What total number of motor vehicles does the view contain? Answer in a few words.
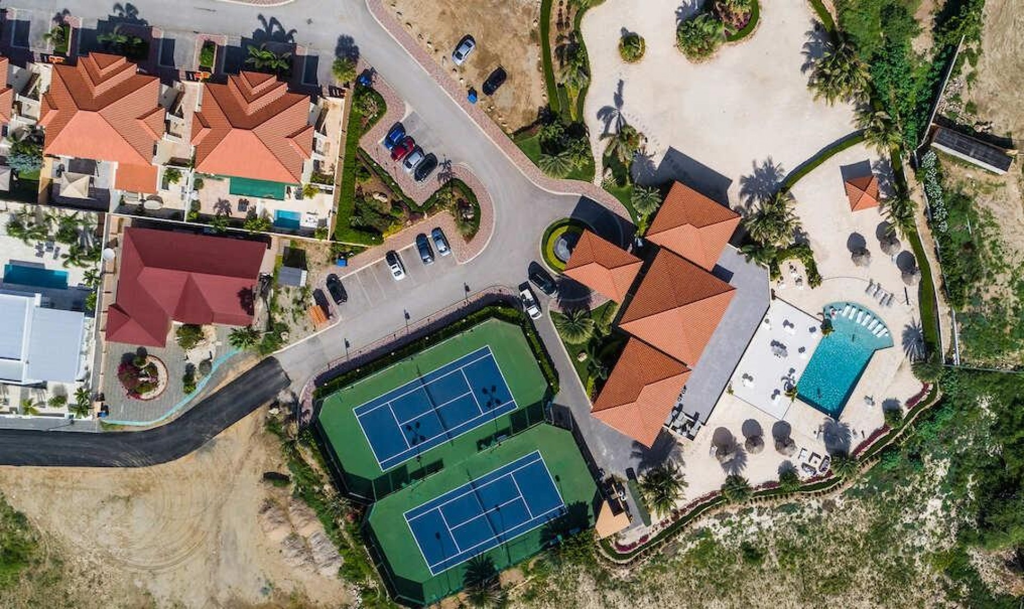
twelve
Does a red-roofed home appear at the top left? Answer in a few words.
Yes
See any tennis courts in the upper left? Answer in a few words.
No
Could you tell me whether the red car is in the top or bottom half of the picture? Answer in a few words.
top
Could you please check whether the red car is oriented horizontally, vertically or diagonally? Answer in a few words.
diagonally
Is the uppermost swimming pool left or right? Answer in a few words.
left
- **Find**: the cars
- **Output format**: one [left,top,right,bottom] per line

[530,267,558,297]
[415,235,436,265]
[382,126,406,150]
[484,69,505,95]
[386,251,407,281]
[326,275,350,306]
[431,228,452,258]
[452,37,475,66]
[412,155,440,184]
[389,137,417,164]
[400,147,427,174]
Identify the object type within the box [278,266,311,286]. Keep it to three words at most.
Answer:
shed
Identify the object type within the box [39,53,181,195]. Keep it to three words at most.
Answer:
house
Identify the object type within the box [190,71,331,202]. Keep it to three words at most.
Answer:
house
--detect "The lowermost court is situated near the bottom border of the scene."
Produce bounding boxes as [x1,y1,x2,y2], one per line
[367,423,599,606]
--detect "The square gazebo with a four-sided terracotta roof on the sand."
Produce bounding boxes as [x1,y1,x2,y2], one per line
[845,175,880,211]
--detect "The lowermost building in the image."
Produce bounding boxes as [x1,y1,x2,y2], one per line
[595,480,630,538]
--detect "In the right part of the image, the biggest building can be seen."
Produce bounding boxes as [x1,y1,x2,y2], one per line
[563,181,772,448]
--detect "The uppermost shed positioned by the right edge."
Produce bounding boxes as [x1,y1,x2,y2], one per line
[924,126,1017,175]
